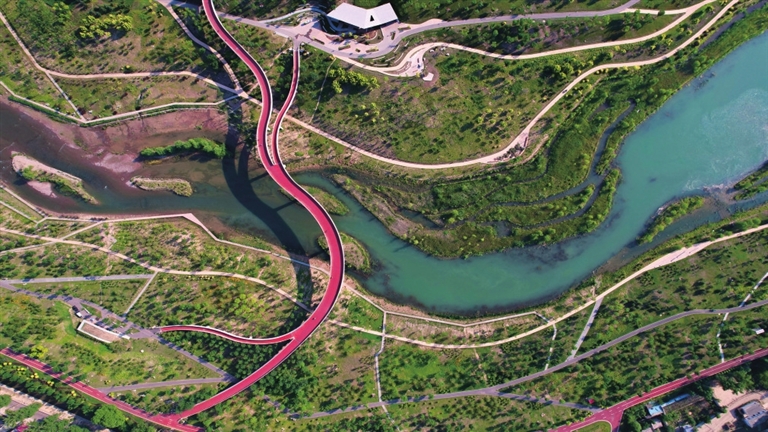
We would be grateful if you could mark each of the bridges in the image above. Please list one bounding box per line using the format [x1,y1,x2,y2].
[149,0,345,413]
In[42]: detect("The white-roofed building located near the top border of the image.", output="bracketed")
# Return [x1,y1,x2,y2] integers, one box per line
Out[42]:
[327,2,398,28]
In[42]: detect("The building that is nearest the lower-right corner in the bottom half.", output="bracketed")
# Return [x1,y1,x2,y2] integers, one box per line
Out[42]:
[738,399,768,428]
